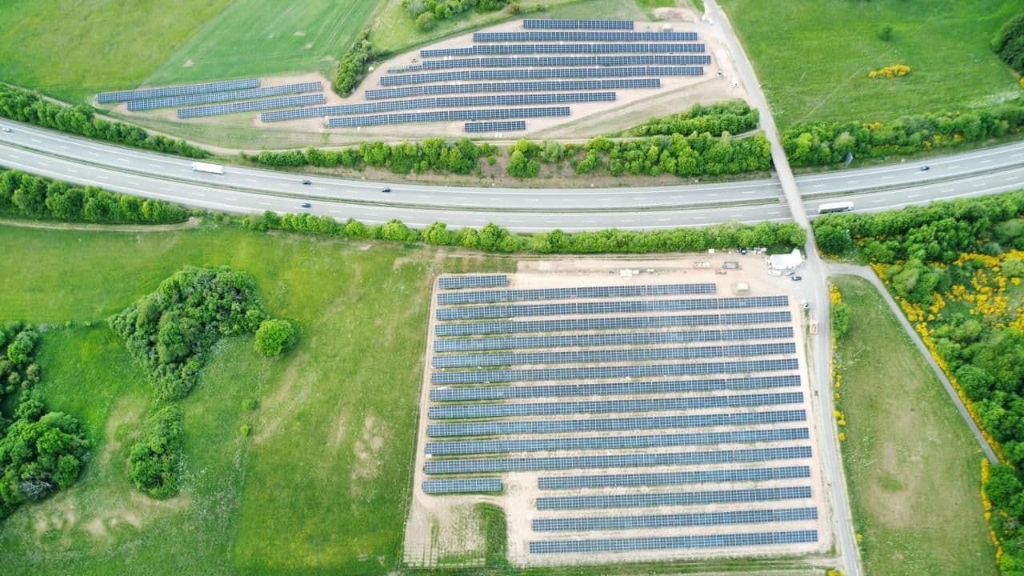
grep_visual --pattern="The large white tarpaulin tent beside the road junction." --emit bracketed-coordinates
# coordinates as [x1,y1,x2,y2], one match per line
[768,248,801,271]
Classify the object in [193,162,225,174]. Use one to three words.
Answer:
vehicle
